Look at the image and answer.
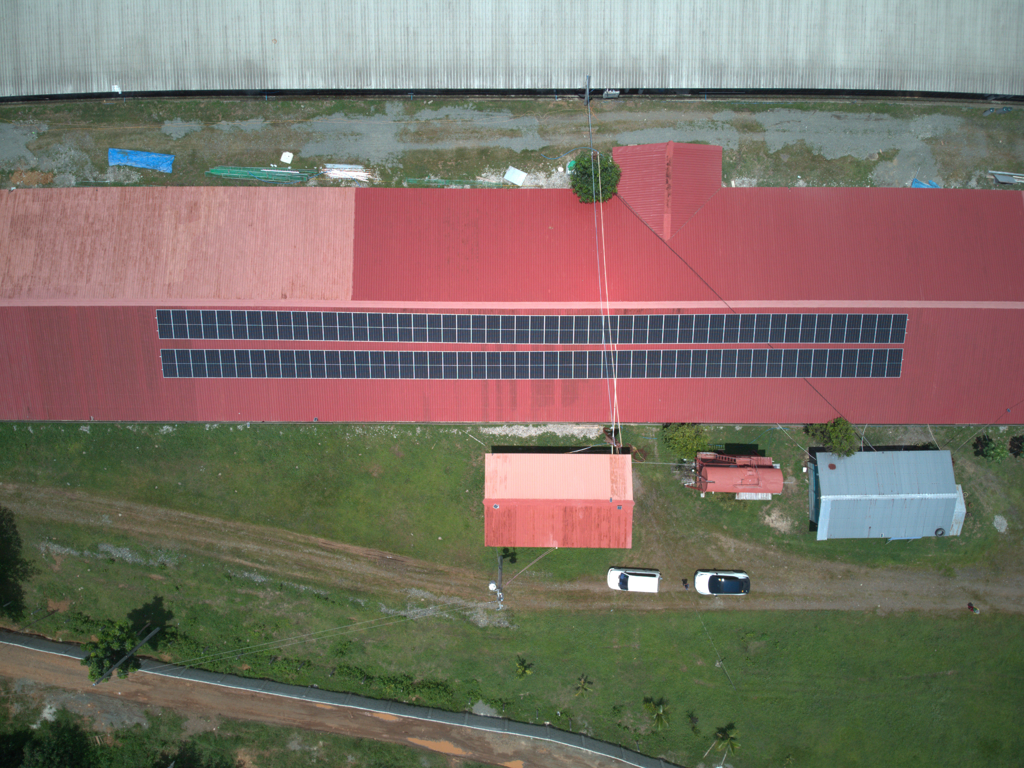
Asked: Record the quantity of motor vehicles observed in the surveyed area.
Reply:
2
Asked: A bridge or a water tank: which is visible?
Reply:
water tank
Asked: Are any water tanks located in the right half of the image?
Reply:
Yes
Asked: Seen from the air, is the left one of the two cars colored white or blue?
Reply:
white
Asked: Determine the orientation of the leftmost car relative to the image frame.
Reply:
from side to side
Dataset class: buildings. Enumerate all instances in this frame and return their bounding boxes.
[482,453,637,548]
[0,0,1024,104]
[802,451,966,540]
[0,142,1024,425]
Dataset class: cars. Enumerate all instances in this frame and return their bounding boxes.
[693,569,751,598]
[607,567,660,594]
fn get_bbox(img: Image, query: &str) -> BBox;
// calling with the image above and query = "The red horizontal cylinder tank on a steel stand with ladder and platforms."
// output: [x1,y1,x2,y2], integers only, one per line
[685,450,792,500]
